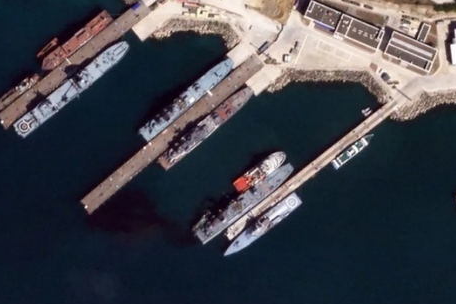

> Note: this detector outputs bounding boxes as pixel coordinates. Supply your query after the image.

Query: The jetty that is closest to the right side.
[227,103,397,241]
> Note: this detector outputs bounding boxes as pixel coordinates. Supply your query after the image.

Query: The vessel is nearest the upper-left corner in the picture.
[37,38,57,56]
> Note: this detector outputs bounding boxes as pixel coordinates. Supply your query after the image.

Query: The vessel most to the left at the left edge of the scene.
[0,72,41,106]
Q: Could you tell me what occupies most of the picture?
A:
water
